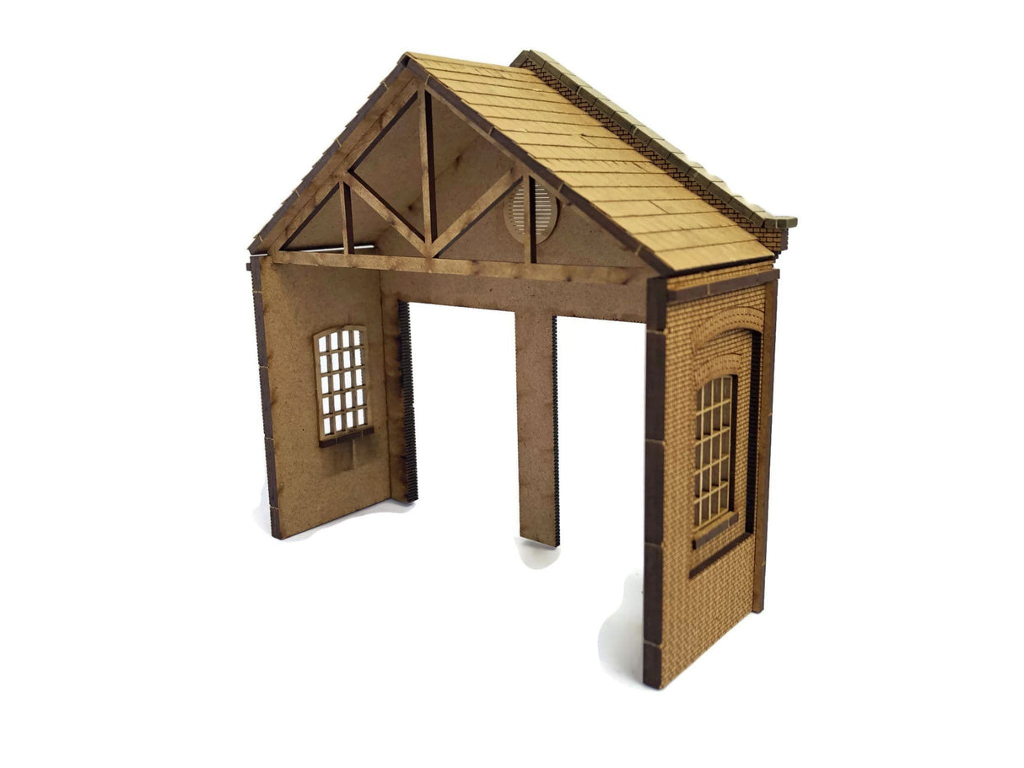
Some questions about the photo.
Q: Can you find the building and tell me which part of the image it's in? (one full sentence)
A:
Look in the center portion of the view to spot the building.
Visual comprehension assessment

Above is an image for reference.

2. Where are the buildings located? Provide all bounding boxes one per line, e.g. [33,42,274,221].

[247,51,797,690]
